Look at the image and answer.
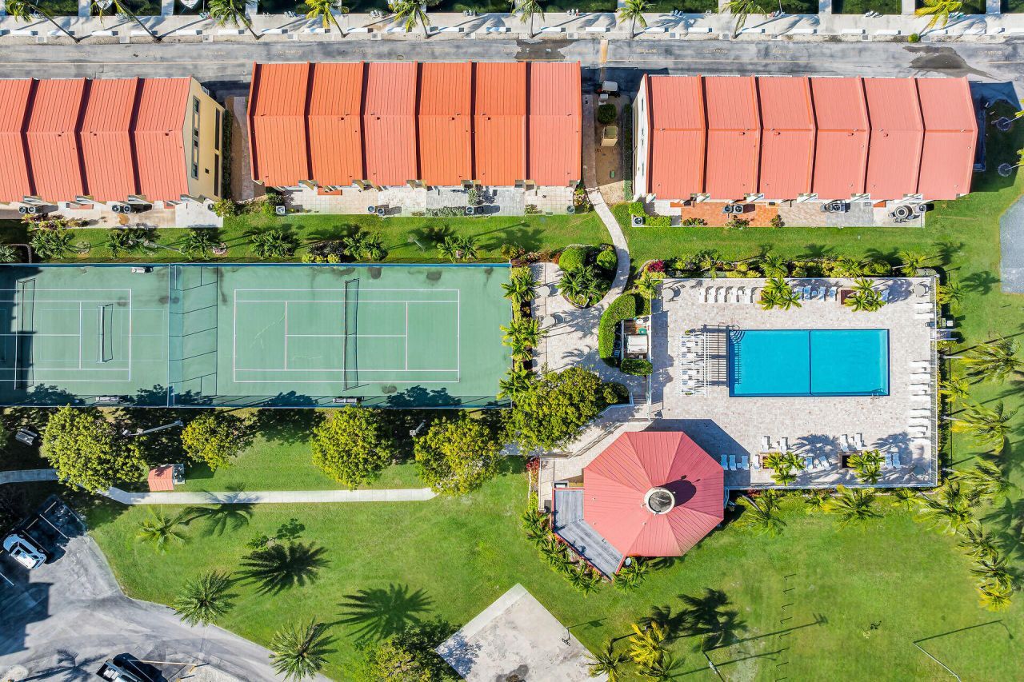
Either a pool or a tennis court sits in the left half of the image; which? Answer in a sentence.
What appears in the left half of the image is a tennis court.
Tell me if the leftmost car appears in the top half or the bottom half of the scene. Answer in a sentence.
It is in the bottom half that the leftmost car appears.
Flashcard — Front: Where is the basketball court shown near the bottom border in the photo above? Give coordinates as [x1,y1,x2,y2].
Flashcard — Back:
[445,584,614,682]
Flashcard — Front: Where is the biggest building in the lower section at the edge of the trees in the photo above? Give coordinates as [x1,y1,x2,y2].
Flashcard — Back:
[553,431,724,584]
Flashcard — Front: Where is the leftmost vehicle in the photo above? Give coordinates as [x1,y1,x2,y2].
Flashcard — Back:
[0,536,44,573]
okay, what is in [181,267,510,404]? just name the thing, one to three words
tennis court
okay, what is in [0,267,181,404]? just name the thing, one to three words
tennis court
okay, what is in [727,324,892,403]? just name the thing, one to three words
swimming pool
